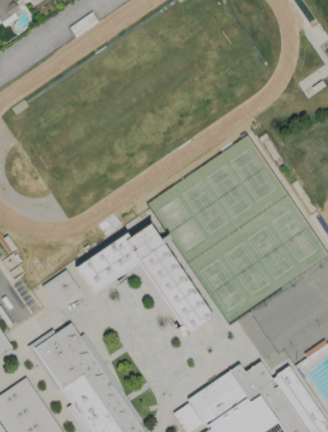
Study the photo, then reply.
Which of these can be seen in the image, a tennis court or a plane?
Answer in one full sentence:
This aerial view contains a tennis court.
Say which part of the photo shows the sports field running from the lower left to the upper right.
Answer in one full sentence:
You can find the sports field running from the lower left to the upper right in the top area of the picture.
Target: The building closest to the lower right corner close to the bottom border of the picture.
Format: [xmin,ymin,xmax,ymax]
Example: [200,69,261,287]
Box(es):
[274,366,328,432]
